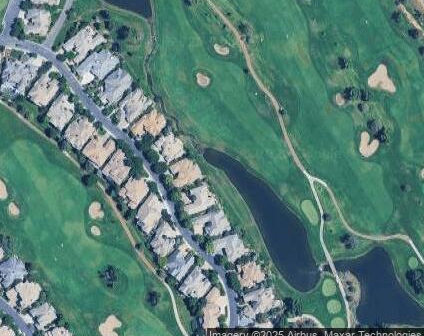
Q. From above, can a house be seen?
Yes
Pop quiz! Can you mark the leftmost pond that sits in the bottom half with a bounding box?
[203,147,321,290]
